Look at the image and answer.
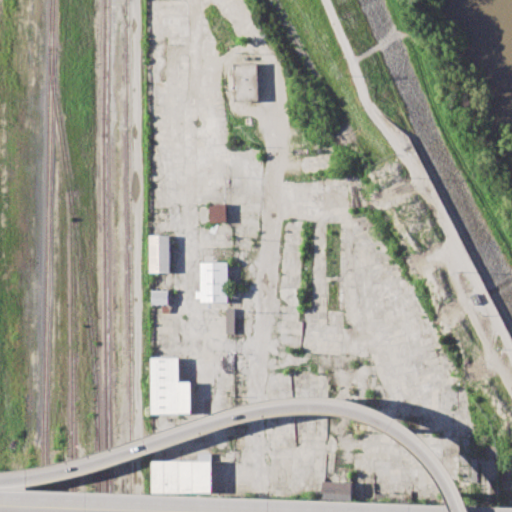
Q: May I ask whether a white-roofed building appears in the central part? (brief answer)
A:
Yes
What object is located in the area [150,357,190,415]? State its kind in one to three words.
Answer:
building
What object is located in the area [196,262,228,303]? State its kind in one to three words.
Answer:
building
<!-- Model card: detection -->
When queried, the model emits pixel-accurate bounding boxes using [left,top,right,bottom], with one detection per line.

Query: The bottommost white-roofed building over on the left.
[150,452,212,494]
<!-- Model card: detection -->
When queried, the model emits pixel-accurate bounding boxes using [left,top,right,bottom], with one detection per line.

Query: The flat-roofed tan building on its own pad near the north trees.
[234,64,257,102]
